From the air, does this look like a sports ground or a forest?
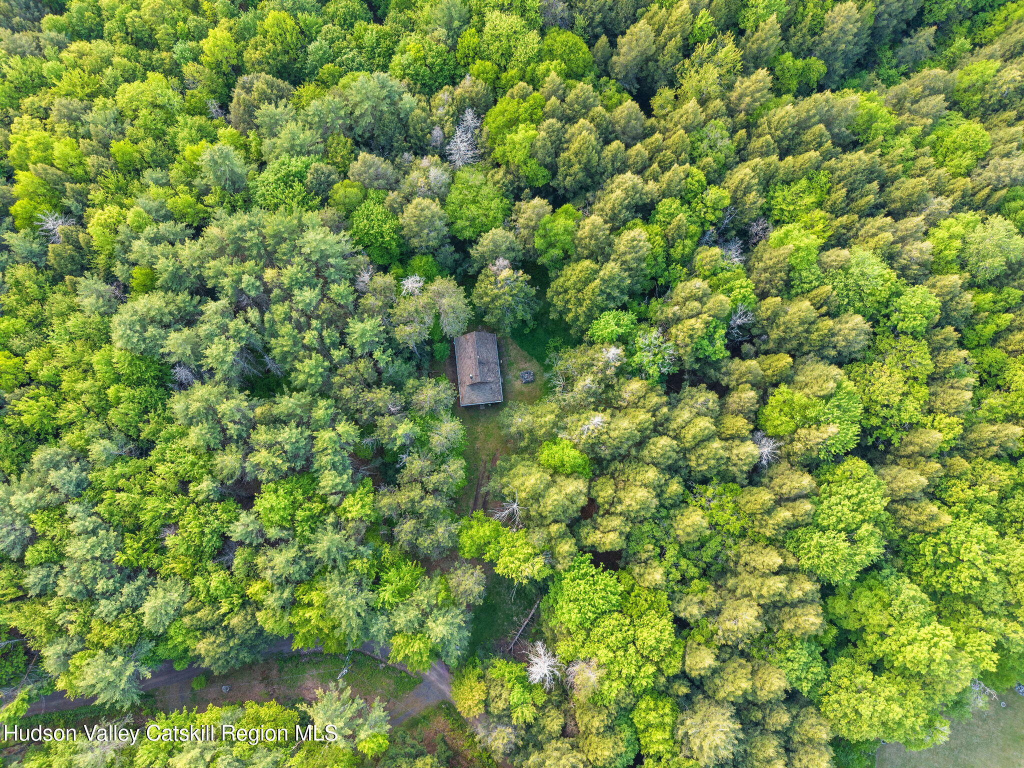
forest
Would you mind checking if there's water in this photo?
No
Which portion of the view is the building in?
center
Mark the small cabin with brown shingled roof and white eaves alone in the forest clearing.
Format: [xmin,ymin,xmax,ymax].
[454,332,503,408]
